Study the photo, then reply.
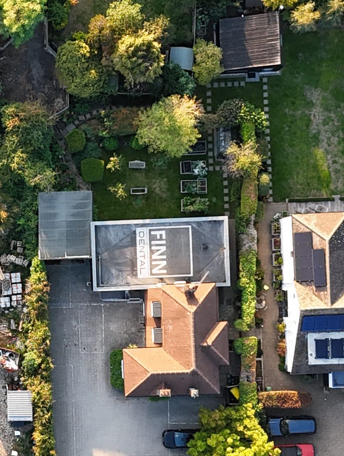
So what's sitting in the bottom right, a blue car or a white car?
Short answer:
blue car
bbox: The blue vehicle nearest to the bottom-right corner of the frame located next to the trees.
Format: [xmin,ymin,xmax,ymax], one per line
[264,414,317,439]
